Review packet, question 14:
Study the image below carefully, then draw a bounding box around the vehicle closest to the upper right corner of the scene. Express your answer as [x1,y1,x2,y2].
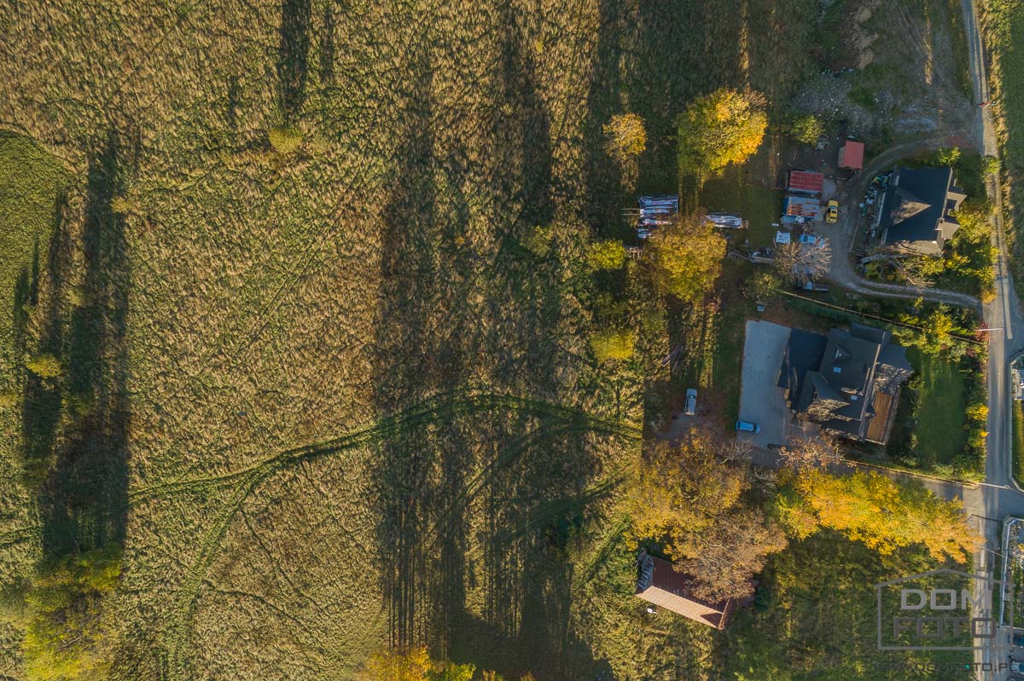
[826,201,839,223]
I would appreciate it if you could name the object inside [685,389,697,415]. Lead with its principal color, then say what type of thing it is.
blue vehicle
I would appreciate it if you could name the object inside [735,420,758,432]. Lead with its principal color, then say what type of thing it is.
blue vehicle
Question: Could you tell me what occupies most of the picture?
grass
